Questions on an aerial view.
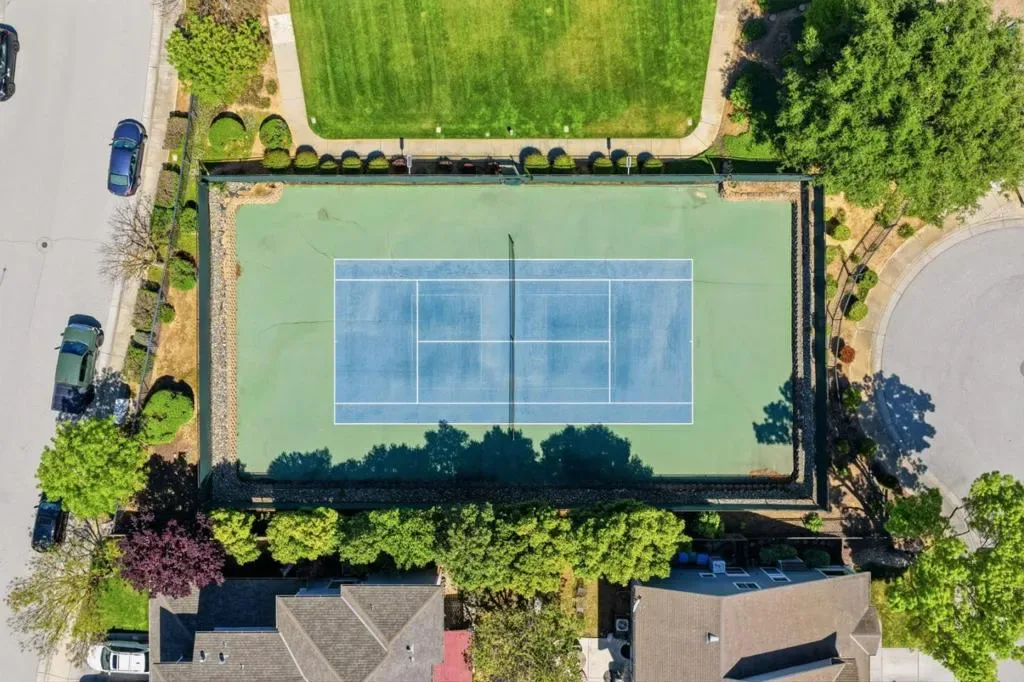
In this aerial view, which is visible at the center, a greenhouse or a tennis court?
tennis court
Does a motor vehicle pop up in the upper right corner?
No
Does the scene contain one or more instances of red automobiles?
No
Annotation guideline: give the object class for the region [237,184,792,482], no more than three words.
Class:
tennis court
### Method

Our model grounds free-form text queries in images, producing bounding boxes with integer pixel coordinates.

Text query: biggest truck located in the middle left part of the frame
[54,320,104,418]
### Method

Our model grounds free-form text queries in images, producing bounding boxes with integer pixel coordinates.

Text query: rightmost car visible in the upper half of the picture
[107,122,147,198]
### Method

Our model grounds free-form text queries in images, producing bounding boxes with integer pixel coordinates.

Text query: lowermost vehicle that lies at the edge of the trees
[88,638,149,677]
